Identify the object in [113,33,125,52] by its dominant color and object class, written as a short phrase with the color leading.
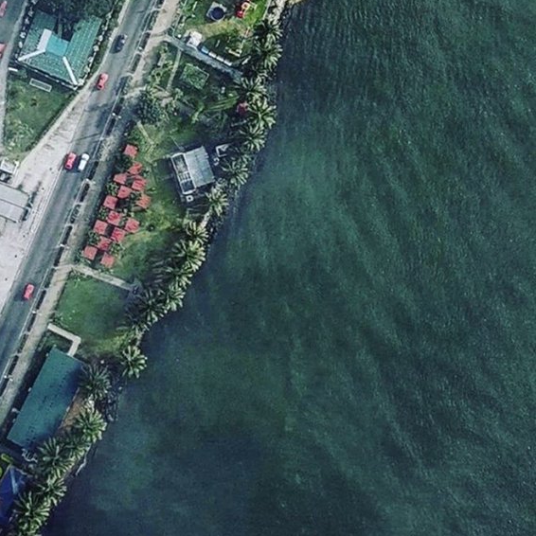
black vehicle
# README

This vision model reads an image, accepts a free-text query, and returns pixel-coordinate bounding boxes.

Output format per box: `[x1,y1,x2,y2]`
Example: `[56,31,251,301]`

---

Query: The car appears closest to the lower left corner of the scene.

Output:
[21,283,33,302]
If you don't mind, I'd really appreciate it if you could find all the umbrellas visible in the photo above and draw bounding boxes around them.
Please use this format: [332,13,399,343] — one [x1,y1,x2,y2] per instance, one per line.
[95,234,112,252]
[117,184,132,200]
[131,175,146,191]
[122,142,140,159]
[123,216,140,234]
[92,219,109,235]
[127,160,143,176]
[112,171,128,185]
[111,227,127,243]
[107,209,122,225]
[100,252,115,269]
[135,193,152,211]
[82,244,99,261]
